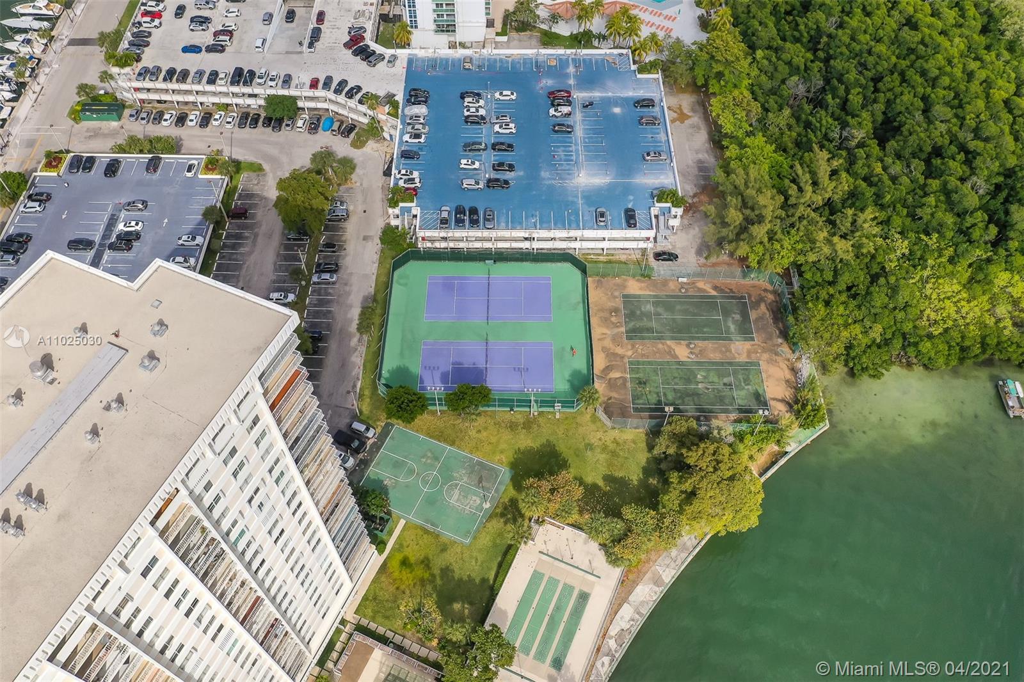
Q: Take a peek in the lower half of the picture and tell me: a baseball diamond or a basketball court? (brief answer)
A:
basketball court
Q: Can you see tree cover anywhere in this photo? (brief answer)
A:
Yes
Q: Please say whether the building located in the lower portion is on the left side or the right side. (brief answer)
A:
left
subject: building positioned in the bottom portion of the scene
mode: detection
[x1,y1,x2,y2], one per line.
[0,250,383,682]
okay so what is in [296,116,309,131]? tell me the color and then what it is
white vehicle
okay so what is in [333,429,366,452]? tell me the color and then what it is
black vehicle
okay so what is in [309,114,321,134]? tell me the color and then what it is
gray vehicle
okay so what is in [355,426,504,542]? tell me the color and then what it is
green basketball court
